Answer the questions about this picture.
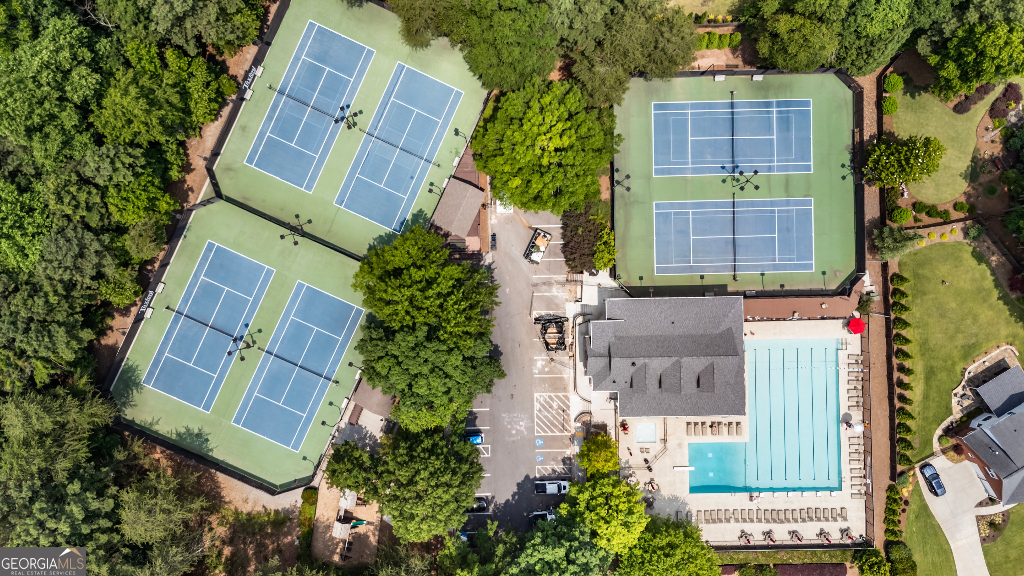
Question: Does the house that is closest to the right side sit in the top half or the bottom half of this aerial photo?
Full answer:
The bottom half of the photo is where the house that is closest to the right side is.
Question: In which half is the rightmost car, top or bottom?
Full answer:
Seen from above, the rightmost car lies in the bottom half of the view.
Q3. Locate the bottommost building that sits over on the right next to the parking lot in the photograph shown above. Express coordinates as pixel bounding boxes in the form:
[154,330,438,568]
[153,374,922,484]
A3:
[584,296,747,418]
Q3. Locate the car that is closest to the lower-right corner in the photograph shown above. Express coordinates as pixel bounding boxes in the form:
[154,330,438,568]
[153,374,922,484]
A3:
[922,464,949,499]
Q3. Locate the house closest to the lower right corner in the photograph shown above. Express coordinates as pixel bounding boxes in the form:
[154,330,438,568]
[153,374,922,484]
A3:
[950,364,1024,514]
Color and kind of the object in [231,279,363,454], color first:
blue tennis court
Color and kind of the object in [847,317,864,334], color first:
red umbrella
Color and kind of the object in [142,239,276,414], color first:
blue tennis court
